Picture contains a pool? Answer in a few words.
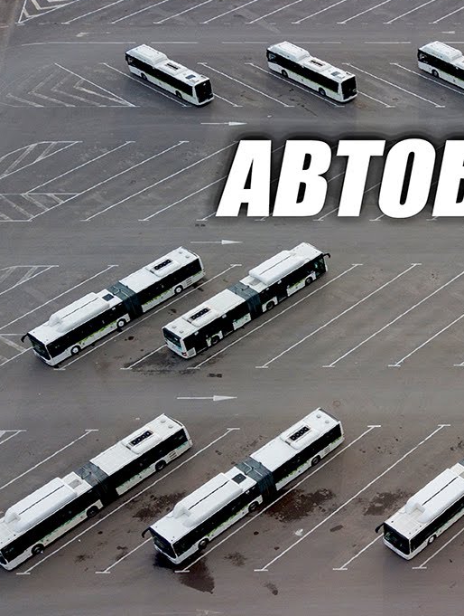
No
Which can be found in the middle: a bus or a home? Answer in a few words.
bus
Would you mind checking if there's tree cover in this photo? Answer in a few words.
No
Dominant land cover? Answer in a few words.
paved ground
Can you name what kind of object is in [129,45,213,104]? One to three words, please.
bus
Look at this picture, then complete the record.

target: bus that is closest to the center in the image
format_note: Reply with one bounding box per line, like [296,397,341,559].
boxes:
[166,243,331,359]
